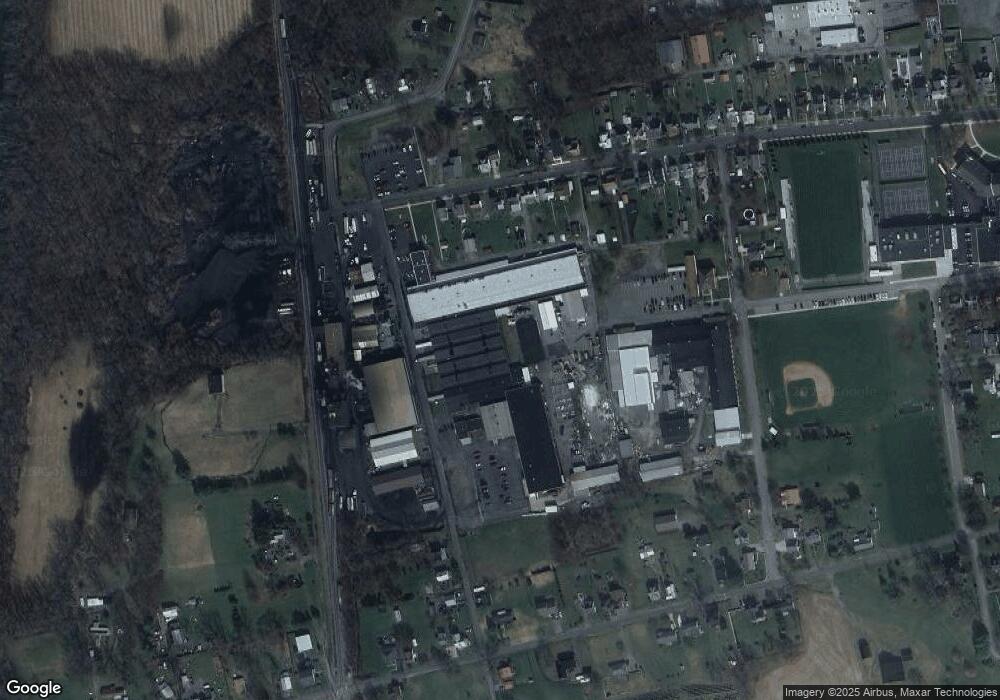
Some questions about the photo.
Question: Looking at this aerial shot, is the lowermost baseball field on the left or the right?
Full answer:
The lowermost baseball field sits on the right side.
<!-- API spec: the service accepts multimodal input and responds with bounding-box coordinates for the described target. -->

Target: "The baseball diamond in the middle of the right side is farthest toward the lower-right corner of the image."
[762,319,902,425]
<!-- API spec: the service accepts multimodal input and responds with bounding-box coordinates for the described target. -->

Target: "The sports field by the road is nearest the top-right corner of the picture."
[778,145,864,277]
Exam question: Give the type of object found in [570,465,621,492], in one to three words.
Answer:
shed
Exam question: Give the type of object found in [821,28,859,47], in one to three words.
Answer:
building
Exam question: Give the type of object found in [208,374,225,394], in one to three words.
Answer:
barn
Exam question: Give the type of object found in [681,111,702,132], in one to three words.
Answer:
house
